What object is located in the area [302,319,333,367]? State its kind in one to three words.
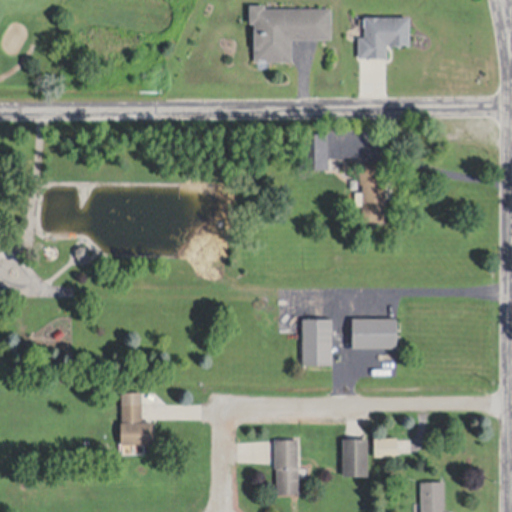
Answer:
barn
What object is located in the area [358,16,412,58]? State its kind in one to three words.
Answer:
house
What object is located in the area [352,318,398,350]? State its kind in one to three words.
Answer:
barn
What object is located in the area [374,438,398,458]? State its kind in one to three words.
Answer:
house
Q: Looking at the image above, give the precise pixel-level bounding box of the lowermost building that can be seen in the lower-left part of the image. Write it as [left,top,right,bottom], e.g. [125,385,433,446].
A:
[120,394,153,458]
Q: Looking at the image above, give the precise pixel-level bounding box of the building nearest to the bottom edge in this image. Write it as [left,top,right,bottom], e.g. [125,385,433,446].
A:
[416,480,446,512]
